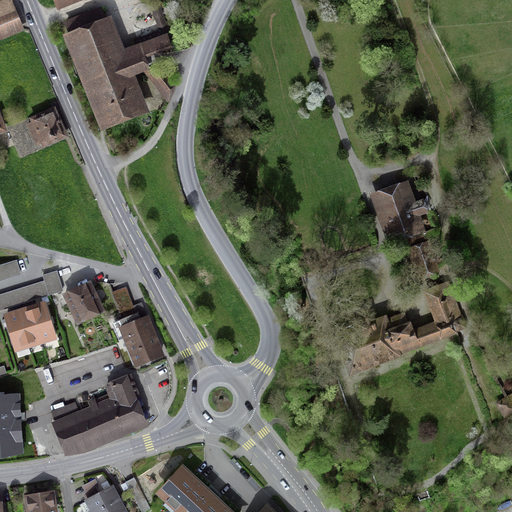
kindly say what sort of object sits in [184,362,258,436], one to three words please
roundabout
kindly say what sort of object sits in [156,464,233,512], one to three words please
building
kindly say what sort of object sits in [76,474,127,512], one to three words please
house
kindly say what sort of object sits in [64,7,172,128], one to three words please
barn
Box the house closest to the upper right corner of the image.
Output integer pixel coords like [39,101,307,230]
[370,180,431,240]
